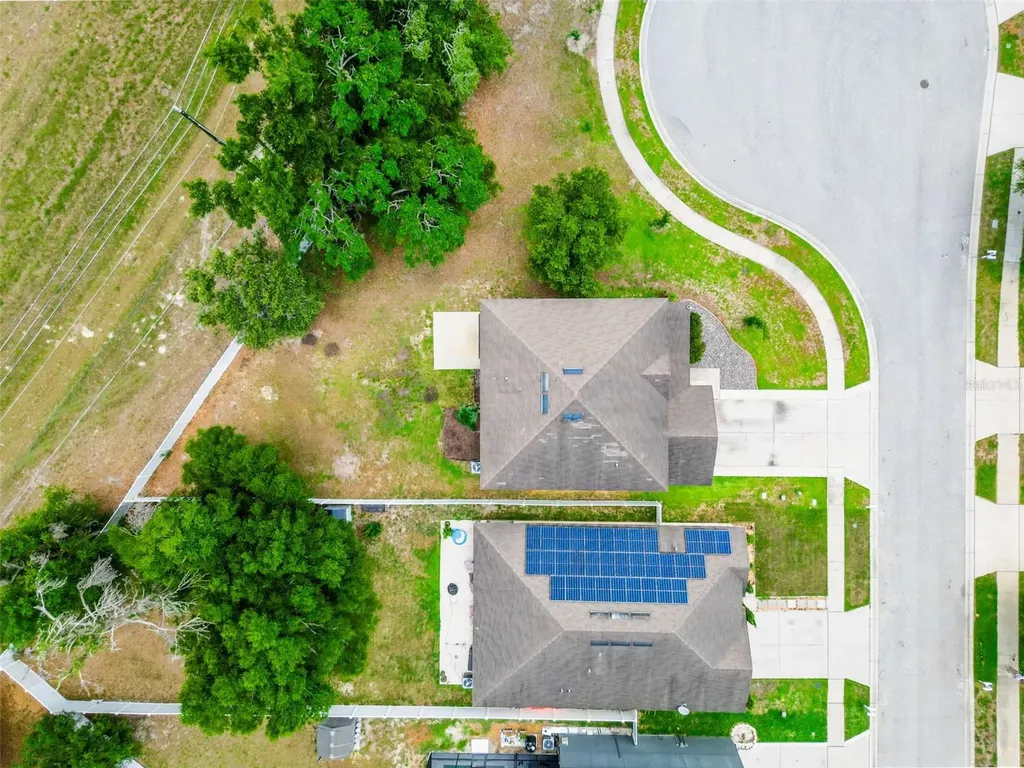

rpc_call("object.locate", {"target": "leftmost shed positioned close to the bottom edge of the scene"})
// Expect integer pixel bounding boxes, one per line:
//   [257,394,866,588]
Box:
[317,718,360,764]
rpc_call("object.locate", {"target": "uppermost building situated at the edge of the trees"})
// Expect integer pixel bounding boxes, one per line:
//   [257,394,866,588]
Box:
[479,298,718,491]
